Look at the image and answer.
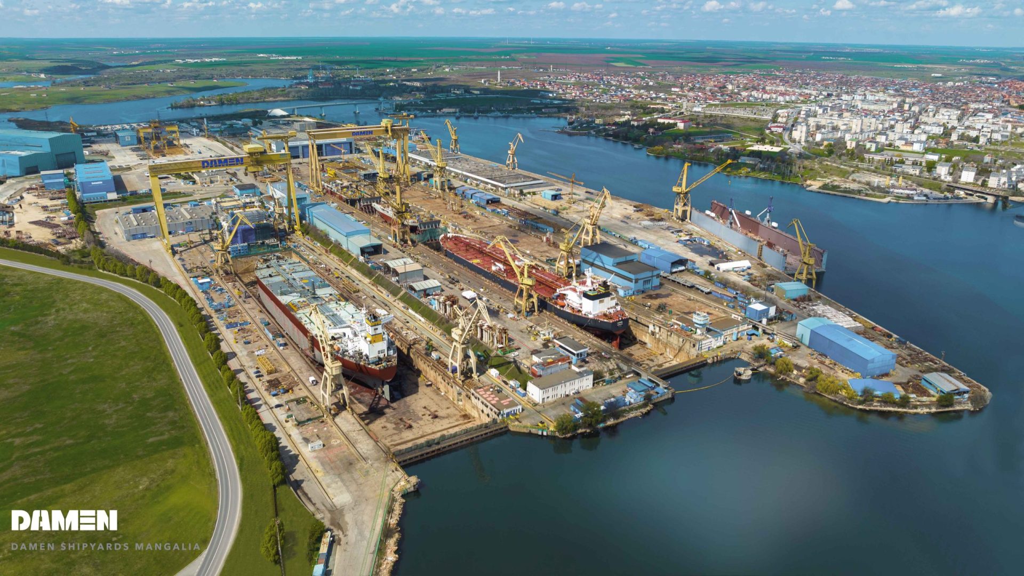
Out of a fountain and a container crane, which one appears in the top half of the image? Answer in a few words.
container crane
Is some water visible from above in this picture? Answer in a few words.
Yes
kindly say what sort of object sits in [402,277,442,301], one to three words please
shed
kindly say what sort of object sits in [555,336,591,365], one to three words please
building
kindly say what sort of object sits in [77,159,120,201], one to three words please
building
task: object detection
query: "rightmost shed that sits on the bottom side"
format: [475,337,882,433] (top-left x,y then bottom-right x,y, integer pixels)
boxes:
[906,354,974,400]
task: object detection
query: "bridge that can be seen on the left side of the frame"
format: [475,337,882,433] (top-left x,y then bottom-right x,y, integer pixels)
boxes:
[263,96,500,117]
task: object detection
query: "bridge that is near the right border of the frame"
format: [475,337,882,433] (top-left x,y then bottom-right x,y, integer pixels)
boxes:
[926,177,1024,203]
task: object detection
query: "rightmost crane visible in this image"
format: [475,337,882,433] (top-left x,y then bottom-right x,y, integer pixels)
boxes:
[785,218,823,283]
